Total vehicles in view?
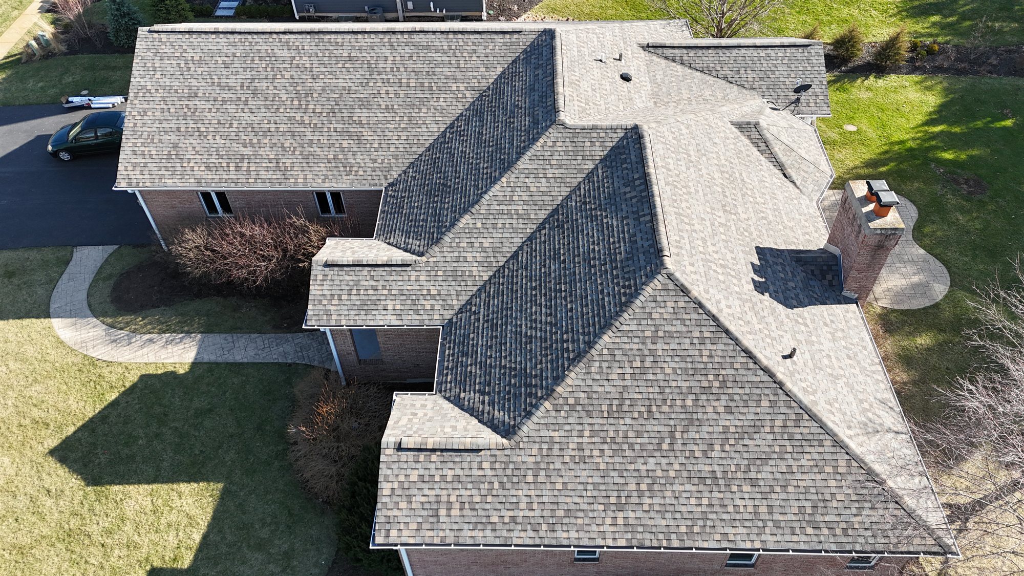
1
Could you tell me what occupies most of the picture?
buildings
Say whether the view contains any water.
No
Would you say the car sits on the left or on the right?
left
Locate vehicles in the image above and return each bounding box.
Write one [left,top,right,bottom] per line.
[40,109,127,160]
